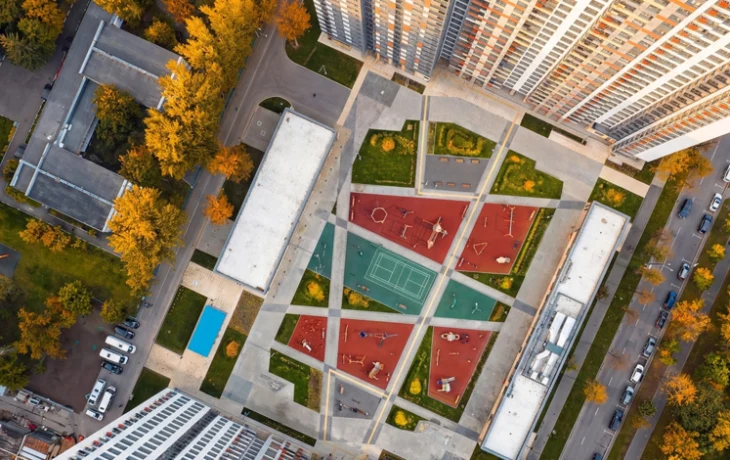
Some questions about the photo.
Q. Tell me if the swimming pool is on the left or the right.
left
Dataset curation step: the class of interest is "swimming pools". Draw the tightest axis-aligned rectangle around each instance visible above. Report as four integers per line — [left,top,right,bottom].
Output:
[186,305,228,359]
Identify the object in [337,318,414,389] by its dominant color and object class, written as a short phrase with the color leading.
red playground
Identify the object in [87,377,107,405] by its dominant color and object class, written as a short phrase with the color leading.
white vehicle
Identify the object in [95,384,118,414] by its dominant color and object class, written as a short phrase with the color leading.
white vehicle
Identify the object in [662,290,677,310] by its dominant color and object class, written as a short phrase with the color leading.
blue car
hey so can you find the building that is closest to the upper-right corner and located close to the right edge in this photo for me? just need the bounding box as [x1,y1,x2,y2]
[441,0,730,162]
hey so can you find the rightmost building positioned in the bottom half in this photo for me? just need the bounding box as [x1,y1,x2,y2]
[476,200,631,460]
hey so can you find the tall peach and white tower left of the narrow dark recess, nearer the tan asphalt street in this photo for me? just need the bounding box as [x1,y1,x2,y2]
[313,0,461,80]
